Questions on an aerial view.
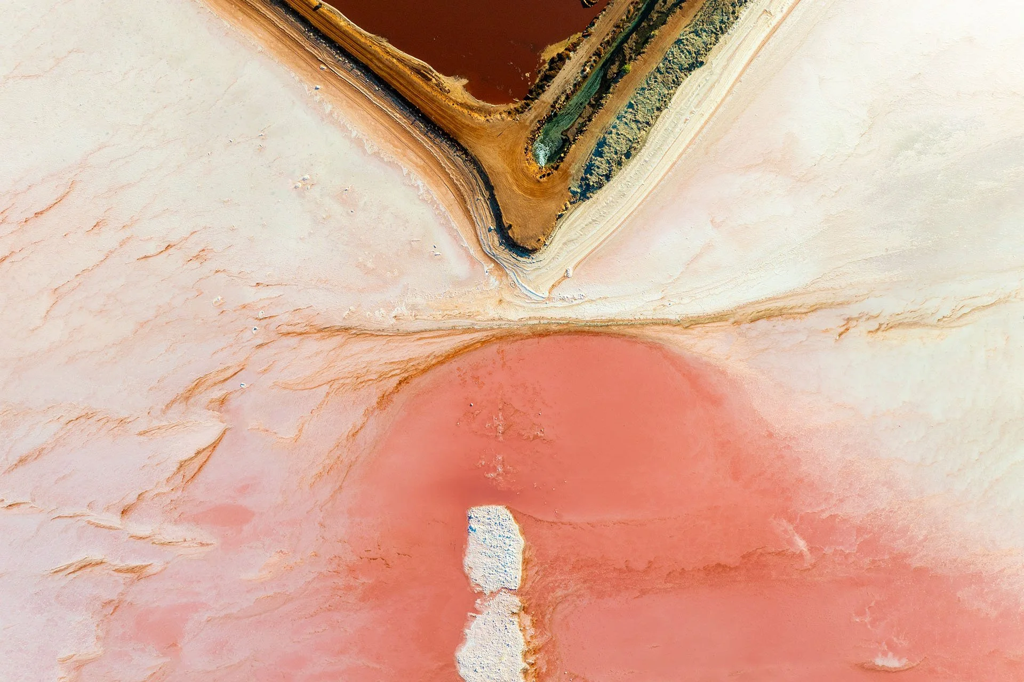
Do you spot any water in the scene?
Yes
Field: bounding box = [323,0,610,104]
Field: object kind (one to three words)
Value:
pond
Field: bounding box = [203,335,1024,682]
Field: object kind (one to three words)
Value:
pond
